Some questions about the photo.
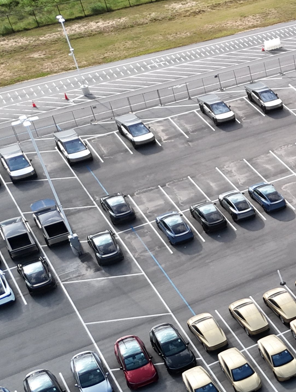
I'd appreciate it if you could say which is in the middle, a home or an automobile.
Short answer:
automobile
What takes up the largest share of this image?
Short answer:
paved ground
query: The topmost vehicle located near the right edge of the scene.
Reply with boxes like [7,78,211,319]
[243,81,283,112]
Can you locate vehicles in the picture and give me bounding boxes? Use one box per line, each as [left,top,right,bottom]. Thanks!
[0,269,15,306]
[255,336,296,381]
[85,229,124,265]
[28,195,71,242]
[194,93,234,125]
[247,181,286,212]
[148,323,194,374]
[187,312,229,352]
[53,126,93,163]
[0,216,39,259]
[261,287,296,324]
[67,351,115,392]
[188,200,226,232]
[0,143,36,180]
[154,211,193,244]
[243,81,283,112]
[99,192,136,224]
[23,368,66,392]
[227,298,269,337]
[113,112,153,147]
[15,256,56,295]
[110,336,158,389]
[217,189,255,220]
[179,367,221,392]
[215,348,263,392]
